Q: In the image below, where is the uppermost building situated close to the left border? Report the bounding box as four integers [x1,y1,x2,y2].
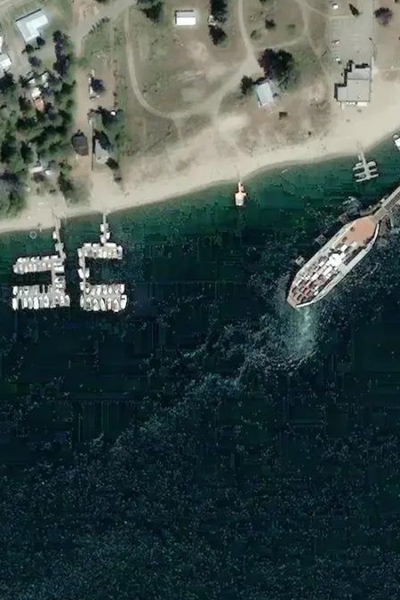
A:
[18,11,44,41]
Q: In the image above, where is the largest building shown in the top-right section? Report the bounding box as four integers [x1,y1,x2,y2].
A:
[339,69,372,101]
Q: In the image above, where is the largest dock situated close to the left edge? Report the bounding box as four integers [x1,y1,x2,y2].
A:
[11,218,67,308]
